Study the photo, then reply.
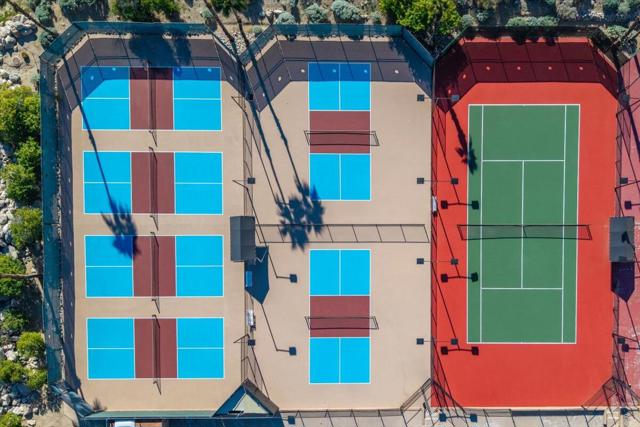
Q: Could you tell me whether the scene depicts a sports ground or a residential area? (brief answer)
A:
sports ground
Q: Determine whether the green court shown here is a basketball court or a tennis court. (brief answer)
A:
tennis court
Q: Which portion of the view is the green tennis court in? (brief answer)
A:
right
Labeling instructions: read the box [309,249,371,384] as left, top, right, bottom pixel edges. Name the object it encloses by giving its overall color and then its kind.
blue sports court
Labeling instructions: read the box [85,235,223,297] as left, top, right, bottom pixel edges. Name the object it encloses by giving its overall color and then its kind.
blue sports court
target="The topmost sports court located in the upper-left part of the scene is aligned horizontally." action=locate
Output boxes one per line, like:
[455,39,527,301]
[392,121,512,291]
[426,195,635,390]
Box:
[82,66,221,130]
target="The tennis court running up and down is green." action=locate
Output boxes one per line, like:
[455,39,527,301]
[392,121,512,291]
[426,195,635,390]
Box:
[468,104,579,343]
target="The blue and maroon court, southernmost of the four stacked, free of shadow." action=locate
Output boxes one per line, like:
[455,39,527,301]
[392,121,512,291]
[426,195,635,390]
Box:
[87,318,224,379]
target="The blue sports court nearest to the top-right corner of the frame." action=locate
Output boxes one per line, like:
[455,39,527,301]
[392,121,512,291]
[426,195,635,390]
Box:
[308,63,371,201]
